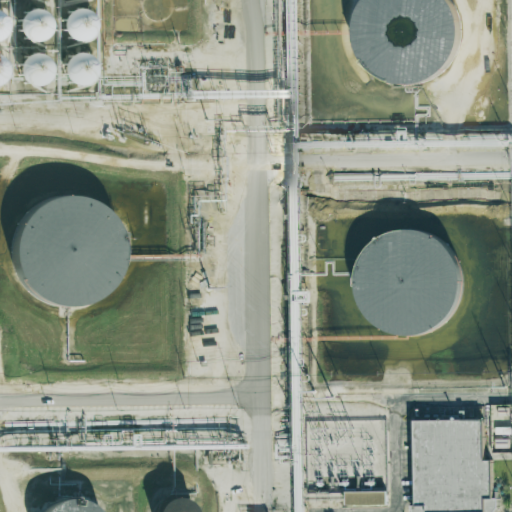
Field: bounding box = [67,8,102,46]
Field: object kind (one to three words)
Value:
storage tank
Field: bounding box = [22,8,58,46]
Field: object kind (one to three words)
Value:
storage tank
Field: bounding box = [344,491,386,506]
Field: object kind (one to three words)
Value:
shed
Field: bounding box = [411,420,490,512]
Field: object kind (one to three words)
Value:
building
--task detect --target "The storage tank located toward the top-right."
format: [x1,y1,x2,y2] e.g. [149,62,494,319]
[350,0,461,88]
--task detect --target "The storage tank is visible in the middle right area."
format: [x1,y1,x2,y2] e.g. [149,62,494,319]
[354,228,462,336]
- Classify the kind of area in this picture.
industrial area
